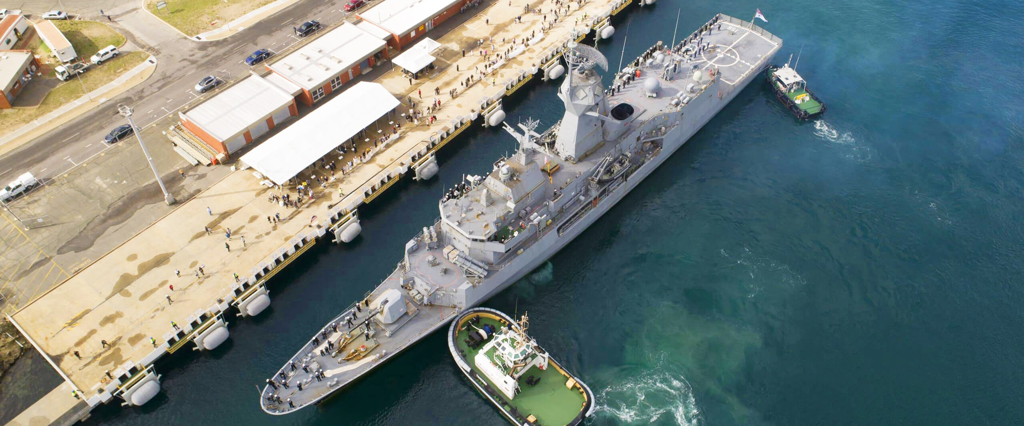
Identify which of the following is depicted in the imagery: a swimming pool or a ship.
ship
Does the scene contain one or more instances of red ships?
No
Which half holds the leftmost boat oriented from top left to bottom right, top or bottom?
bottom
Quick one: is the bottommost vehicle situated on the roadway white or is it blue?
white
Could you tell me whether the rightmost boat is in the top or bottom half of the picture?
top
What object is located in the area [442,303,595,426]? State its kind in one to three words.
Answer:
boat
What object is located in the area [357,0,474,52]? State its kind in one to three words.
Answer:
shed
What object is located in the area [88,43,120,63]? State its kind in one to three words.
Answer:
car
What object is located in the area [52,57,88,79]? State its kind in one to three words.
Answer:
truck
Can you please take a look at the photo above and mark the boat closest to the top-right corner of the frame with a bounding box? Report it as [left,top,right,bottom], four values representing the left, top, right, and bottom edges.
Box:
[756,49,828,121]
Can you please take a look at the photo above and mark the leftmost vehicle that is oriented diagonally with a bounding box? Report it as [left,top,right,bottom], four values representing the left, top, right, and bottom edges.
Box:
[0,172,33,202]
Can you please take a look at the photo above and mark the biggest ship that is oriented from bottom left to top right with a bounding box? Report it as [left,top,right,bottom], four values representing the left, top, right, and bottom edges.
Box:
[246,6,783,419]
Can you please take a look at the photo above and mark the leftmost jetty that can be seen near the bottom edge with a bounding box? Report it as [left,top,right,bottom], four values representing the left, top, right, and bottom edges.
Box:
[5,382,86,426]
